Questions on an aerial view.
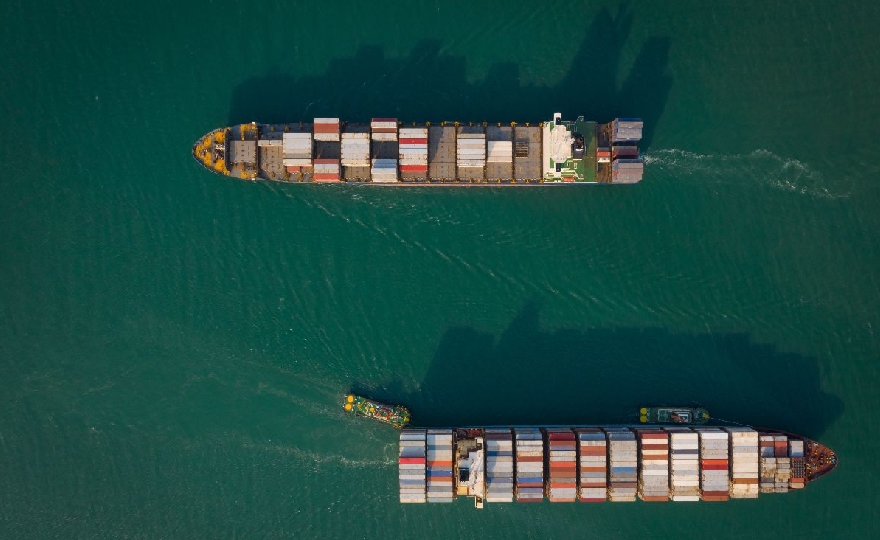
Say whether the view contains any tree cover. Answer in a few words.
No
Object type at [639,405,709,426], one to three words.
boat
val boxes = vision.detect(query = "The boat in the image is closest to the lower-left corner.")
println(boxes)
[341,392,412,431]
